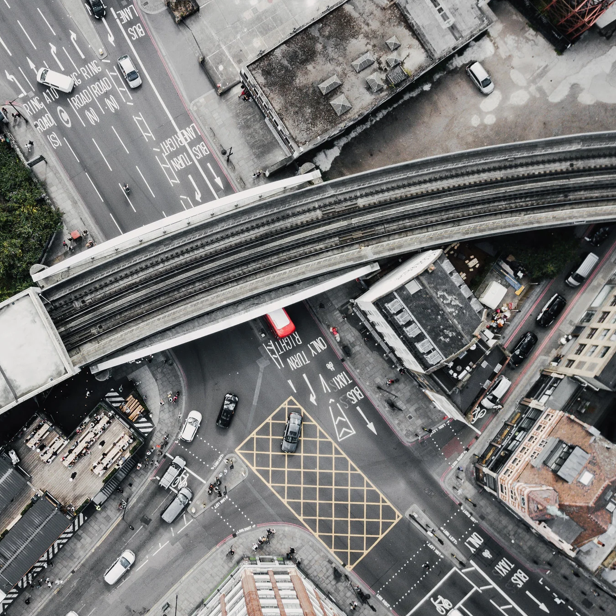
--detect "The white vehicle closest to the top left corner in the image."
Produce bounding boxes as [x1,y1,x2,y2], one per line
[32,66,79,97]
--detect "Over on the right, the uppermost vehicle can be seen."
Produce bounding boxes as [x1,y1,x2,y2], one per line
[466,59,494,97]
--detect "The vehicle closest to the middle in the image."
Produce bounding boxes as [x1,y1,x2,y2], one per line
[260,307,297,344]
